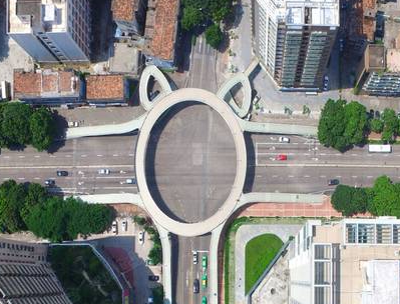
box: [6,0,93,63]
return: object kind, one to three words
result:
building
